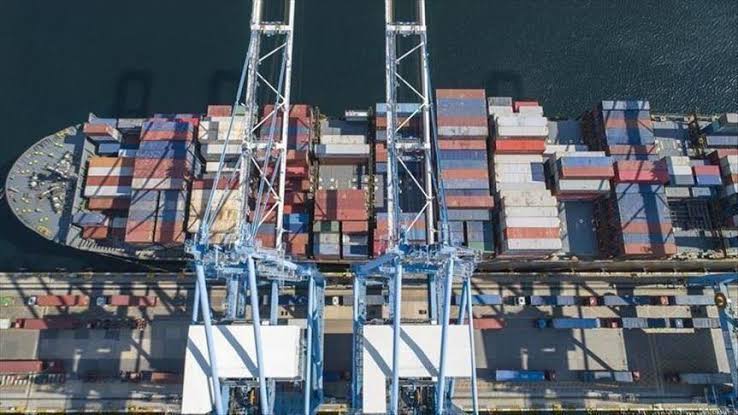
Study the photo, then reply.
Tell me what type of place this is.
port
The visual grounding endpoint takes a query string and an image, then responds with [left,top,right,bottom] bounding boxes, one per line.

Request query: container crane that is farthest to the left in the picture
[177,0,349,415]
